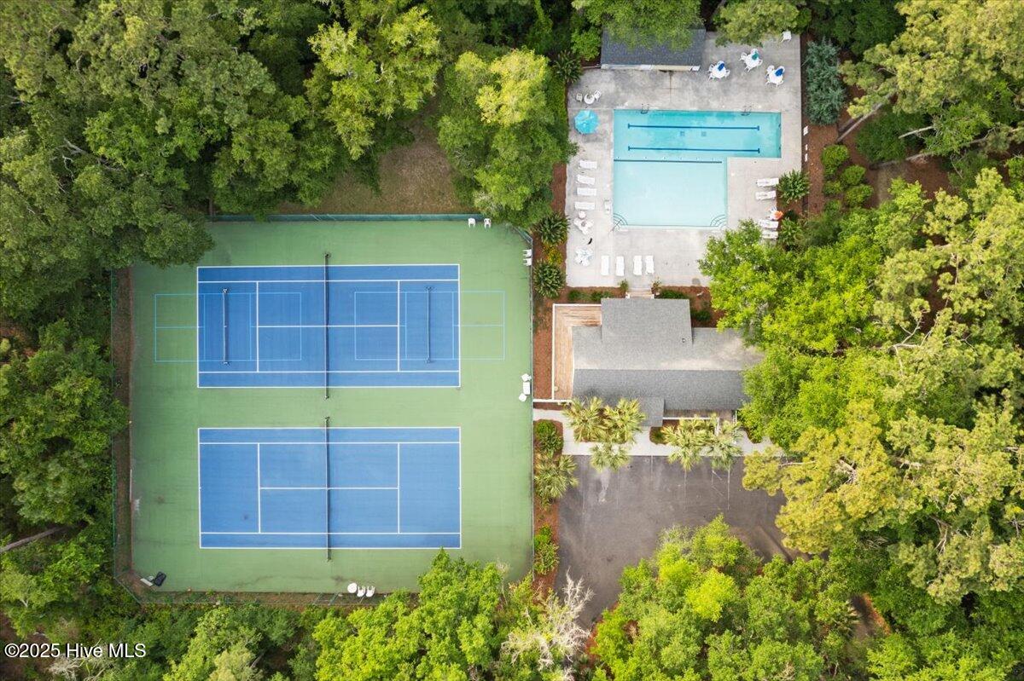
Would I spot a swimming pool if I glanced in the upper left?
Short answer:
No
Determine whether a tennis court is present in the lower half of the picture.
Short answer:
Yes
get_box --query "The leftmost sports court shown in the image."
[154,292,302,362]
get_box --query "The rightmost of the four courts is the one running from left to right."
[355,290,505,360]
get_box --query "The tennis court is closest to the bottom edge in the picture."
[198,428,461,549]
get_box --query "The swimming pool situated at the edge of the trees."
[610,101,784,231]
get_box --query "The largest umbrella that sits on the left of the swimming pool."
[574,110,598,134]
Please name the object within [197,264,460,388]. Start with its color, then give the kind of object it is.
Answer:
blue tennis court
